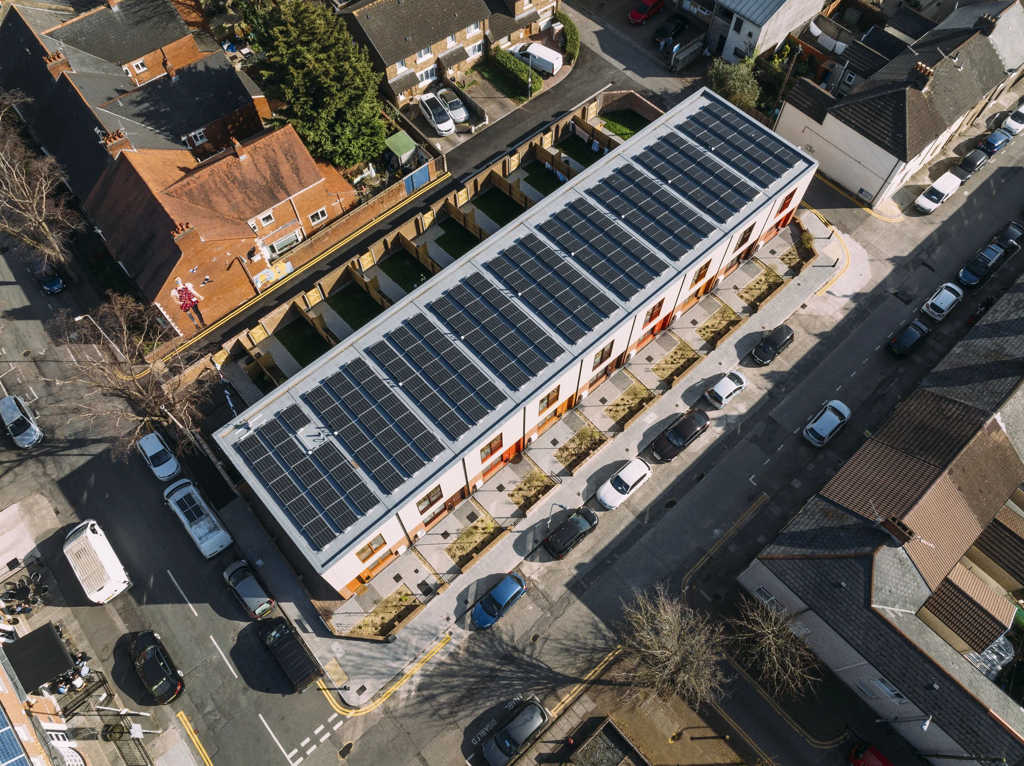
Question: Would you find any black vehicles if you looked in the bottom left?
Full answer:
Yes, a black vehicle appears in the bottom left.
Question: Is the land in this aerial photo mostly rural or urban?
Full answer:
It looks urban.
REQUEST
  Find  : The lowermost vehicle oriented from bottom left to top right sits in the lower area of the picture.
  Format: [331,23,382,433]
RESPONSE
[473,688,553,766]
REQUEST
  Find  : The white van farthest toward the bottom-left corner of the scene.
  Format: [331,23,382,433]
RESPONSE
[60,517,137,611]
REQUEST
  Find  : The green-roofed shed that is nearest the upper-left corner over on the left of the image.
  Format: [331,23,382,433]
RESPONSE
[384,129,419,174]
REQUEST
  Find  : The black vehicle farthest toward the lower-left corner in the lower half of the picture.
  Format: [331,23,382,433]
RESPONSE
[127,623,189,711]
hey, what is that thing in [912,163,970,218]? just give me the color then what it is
white van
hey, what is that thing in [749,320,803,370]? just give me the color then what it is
black car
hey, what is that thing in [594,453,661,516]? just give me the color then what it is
white car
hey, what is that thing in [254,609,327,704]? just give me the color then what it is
black van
